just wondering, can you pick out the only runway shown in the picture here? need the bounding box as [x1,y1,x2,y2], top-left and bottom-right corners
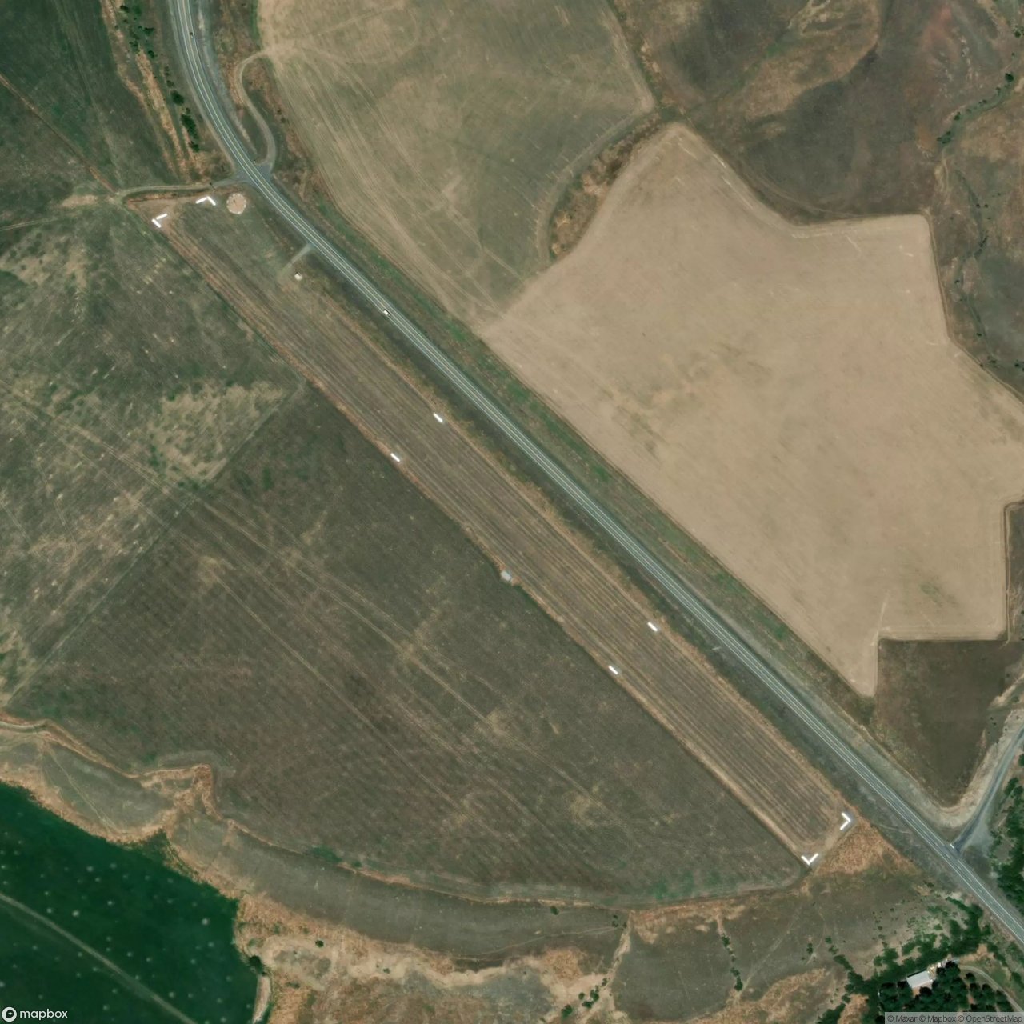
[128,191,856,869]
